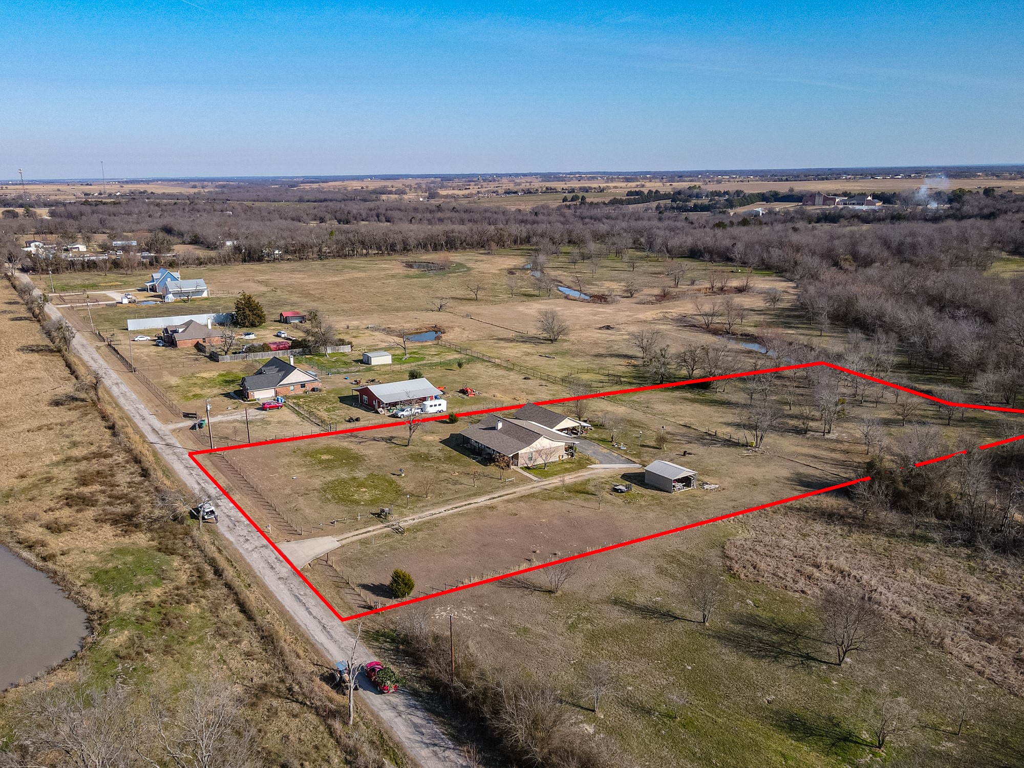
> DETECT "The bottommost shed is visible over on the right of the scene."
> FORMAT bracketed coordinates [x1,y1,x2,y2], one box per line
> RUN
[644,459,697,494]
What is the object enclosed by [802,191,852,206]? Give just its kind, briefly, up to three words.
building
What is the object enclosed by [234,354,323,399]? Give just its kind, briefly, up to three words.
house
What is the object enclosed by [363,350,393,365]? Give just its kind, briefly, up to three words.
shed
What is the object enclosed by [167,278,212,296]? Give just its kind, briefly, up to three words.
barn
